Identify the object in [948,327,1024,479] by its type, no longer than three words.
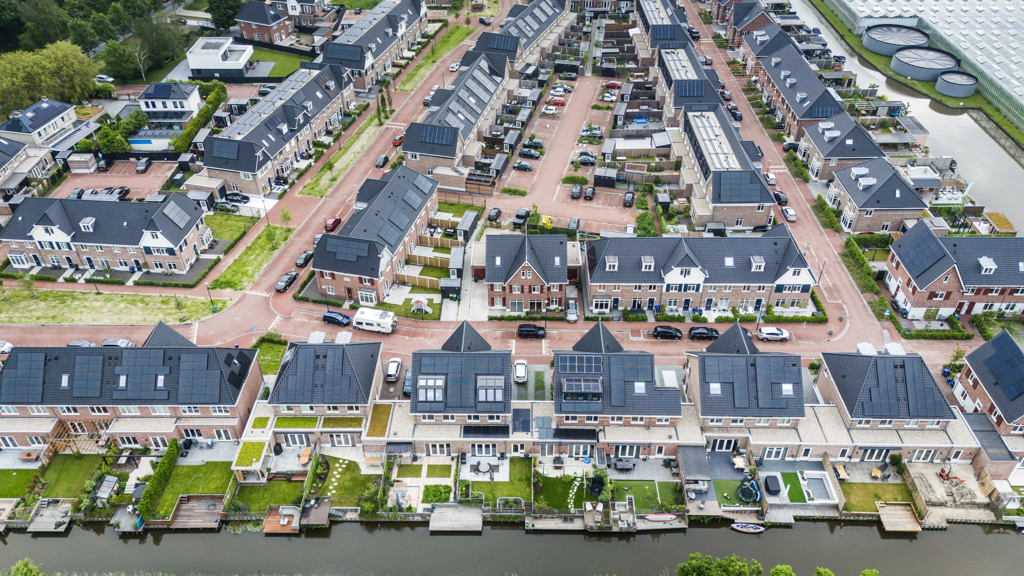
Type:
house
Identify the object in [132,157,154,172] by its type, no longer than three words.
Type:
car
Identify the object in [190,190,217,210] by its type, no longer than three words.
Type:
shed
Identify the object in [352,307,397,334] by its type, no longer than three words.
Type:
camper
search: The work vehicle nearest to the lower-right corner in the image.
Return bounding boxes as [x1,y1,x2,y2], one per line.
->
[938,463,977,488]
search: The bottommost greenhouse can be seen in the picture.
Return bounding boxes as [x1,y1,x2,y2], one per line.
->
[87,461,135,503]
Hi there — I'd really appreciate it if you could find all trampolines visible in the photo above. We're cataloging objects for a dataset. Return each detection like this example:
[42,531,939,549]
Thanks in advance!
[583,471,610,501]
[731,473,766,508]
